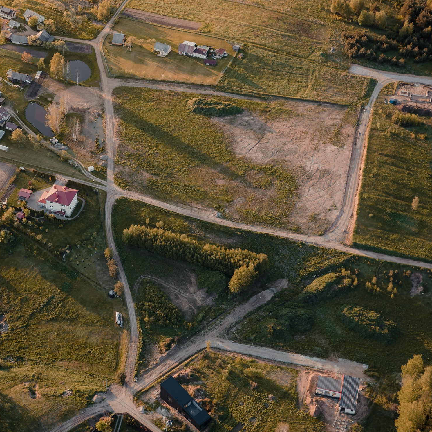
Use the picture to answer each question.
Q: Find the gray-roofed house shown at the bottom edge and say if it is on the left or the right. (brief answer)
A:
right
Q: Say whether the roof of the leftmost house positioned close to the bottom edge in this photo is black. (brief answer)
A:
Yes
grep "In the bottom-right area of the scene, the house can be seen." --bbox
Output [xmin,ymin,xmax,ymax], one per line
[318,375,361,416]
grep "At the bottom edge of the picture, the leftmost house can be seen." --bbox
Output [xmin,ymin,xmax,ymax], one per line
[160,376,211,431]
